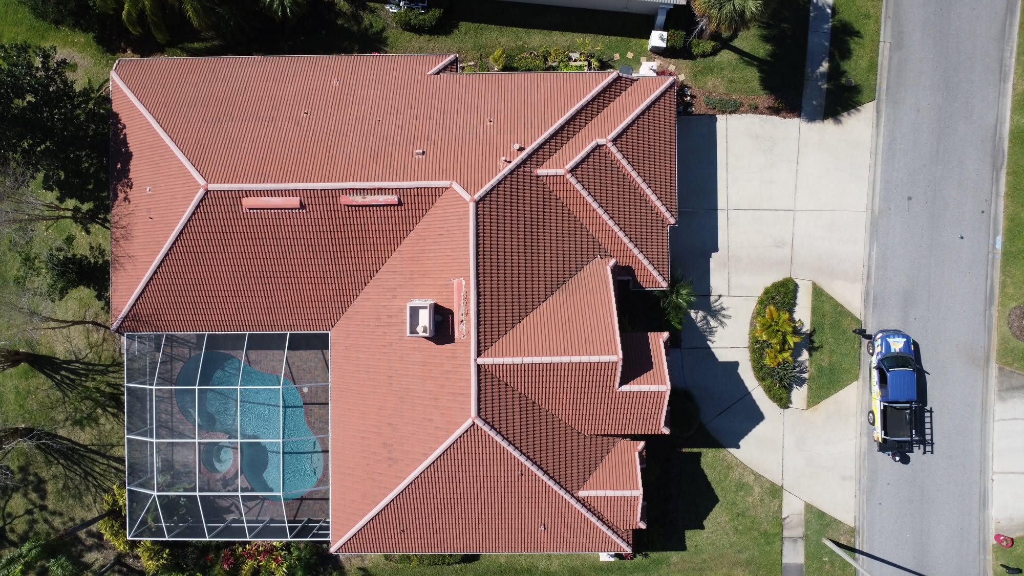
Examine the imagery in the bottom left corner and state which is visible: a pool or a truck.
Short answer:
pool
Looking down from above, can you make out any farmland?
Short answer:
No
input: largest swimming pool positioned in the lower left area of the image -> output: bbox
[170,346,327,506]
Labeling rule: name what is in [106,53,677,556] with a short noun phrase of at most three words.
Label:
house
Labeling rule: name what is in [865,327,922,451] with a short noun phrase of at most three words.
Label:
truck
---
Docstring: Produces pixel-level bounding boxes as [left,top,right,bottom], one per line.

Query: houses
[106,53,677,556]
[489,0,662,13]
